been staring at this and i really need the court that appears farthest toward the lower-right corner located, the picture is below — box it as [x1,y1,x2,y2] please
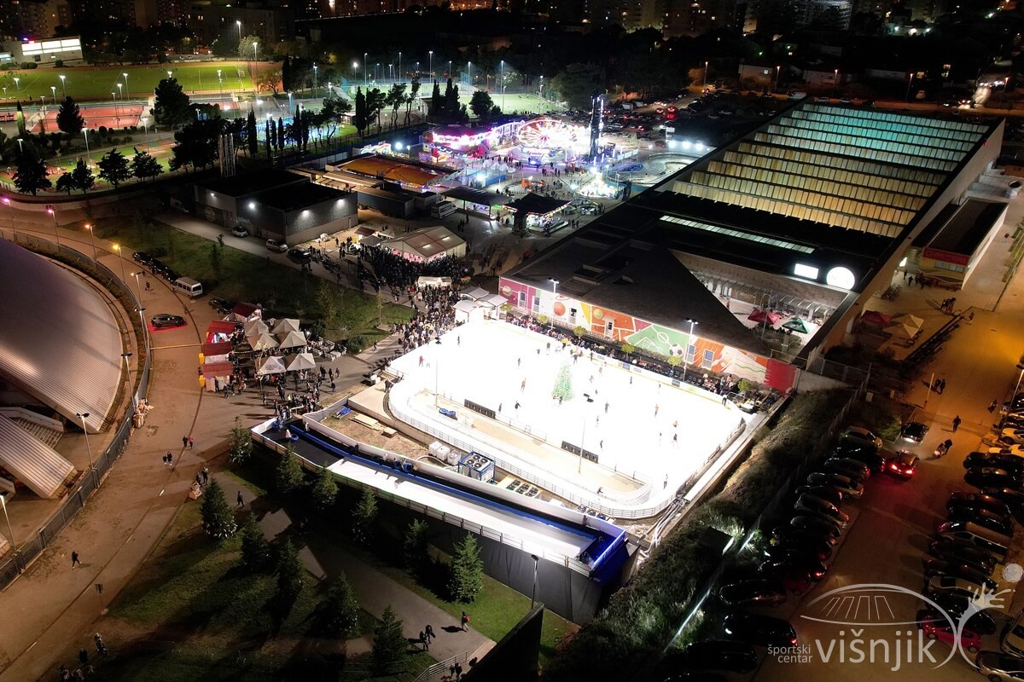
[387,321,745,524]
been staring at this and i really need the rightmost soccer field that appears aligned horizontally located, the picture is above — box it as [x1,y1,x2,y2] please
[301,81,560,116]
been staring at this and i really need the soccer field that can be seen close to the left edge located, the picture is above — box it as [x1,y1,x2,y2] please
[0,63,257,99]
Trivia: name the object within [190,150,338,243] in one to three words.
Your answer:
building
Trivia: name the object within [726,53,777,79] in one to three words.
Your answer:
house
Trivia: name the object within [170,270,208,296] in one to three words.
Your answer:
vehicle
